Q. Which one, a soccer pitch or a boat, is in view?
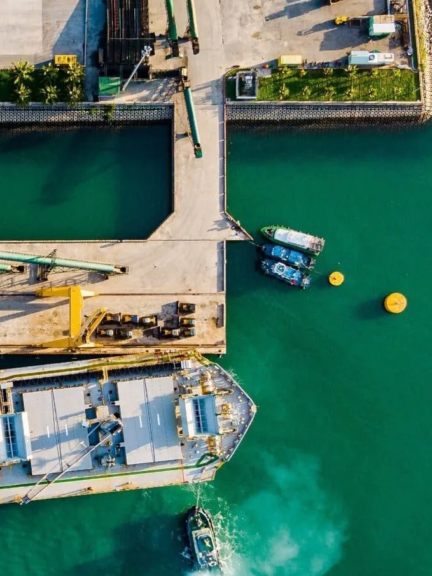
boat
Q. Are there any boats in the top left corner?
No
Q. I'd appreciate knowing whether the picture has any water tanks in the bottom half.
No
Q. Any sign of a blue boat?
Yes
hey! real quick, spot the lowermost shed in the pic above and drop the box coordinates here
[97,76,121,102]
